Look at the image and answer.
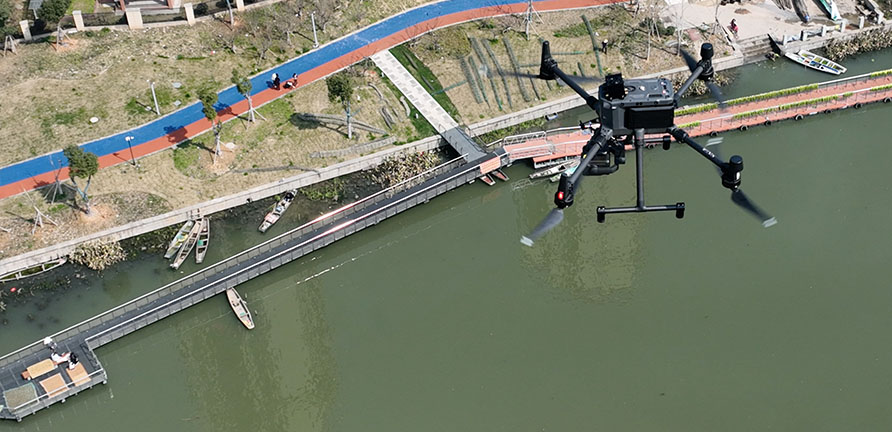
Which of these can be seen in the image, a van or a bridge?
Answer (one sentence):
Of the two, only a bridge appears.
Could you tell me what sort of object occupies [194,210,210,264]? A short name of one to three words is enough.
boat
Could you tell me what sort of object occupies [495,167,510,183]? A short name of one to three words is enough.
boat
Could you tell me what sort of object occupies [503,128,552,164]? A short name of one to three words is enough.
bridge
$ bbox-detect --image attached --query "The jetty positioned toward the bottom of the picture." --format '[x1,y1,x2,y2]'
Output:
[0,138,511,424]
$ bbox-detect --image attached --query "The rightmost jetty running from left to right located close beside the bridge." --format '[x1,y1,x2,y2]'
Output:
[532,69,892,163]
